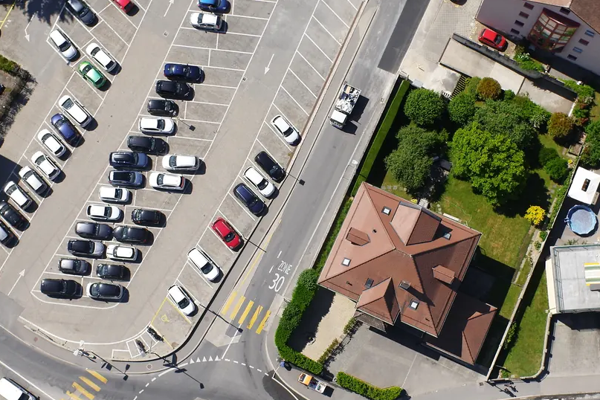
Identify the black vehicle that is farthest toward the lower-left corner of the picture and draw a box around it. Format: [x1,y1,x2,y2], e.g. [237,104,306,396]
[38,279,83,299]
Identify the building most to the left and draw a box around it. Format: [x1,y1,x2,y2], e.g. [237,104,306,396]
[317,181,498,365]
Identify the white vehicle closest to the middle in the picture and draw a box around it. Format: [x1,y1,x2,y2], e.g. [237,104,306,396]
[241,164,274,200]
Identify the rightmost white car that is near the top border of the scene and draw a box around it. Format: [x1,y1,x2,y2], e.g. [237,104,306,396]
[190,6,223,34]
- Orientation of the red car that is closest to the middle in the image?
at an angle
